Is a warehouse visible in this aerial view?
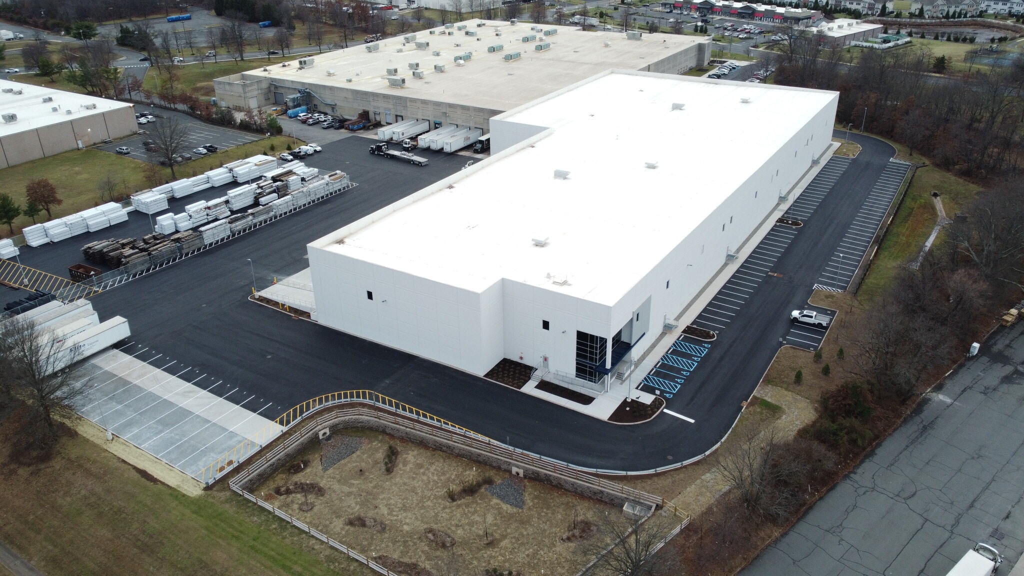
Yes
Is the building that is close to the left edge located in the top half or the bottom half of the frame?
top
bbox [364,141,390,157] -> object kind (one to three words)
vehicle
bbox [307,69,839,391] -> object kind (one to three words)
warehouse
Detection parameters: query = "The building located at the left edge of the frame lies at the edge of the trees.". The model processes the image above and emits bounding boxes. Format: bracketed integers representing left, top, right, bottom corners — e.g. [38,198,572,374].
[0,79,140,169]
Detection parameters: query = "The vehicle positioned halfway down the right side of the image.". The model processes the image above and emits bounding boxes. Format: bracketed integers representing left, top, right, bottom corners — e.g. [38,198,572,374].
[789,311,831,331]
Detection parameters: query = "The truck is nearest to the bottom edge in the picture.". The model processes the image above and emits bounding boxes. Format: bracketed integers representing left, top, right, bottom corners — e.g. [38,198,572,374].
[949,546,1001,576]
